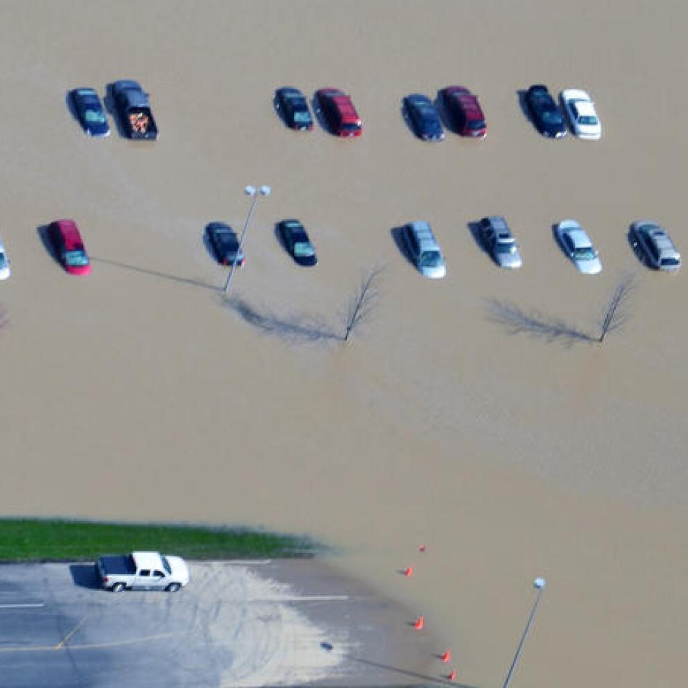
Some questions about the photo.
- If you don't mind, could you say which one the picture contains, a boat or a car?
car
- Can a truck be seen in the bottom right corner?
No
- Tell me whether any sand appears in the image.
No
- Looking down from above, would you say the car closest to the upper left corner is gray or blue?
blue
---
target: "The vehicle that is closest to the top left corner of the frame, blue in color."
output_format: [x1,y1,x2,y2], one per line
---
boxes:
[72,88,110,138]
